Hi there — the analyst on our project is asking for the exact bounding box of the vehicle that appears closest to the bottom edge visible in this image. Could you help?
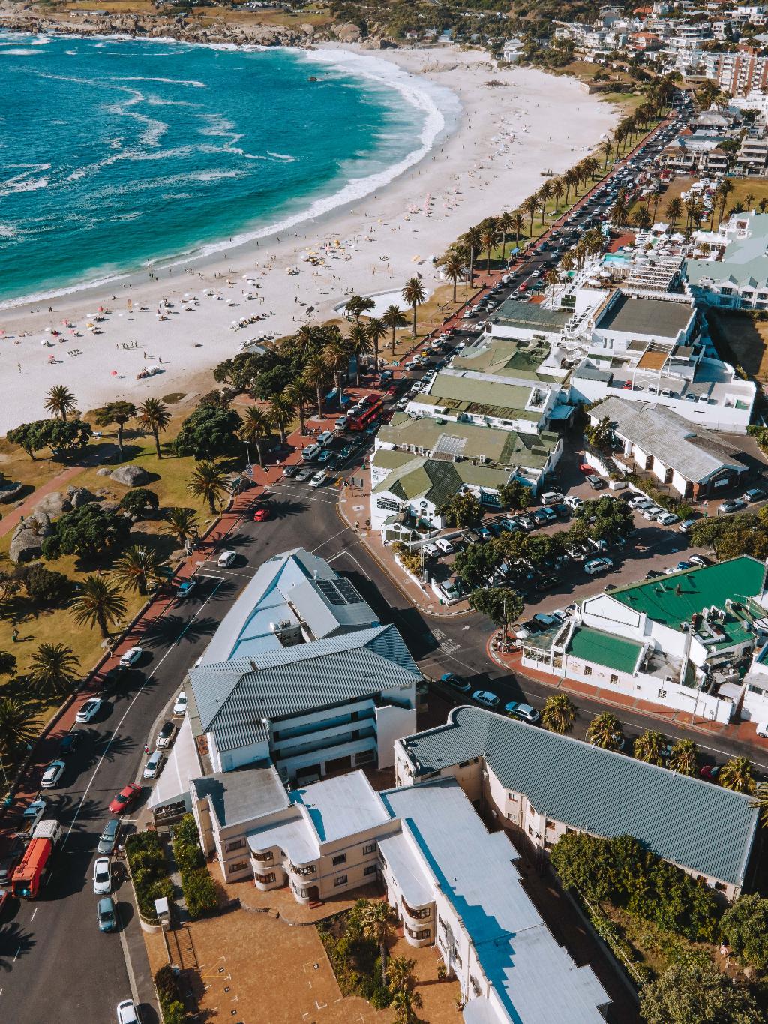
[113,986,143,1024]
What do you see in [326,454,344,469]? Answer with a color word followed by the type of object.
black car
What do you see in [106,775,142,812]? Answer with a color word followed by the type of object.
red car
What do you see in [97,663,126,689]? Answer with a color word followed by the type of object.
black car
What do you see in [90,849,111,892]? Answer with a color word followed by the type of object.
white car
